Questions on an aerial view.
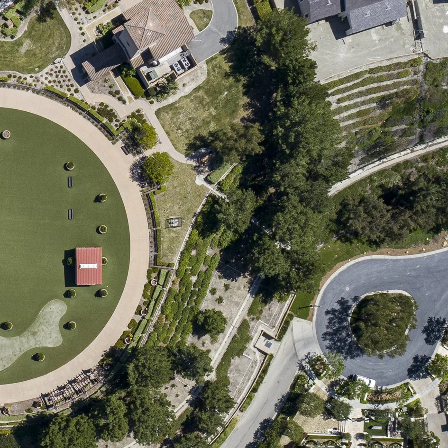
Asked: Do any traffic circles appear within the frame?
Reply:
Yes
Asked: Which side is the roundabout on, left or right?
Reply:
right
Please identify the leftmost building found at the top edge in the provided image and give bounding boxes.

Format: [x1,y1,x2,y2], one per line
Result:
[82,0,194,82]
